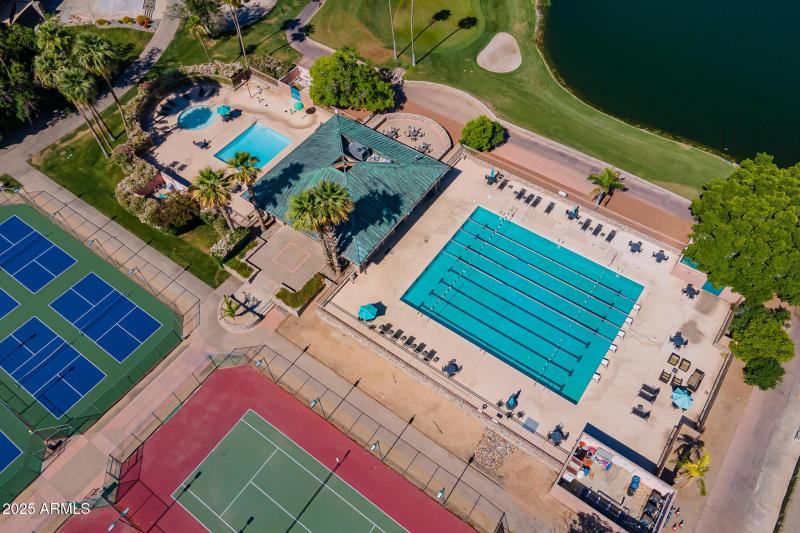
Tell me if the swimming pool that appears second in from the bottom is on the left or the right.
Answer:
left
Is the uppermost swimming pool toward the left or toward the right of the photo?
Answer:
left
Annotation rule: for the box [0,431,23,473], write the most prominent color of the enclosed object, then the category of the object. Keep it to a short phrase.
blue sports court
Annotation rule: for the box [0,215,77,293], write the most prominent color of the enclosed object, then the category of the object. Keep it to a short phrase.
blue sports court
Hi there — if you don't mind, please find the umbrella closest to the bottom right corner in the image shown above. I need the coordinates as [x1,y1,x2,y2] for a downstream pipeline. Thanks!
[672,385,698,409]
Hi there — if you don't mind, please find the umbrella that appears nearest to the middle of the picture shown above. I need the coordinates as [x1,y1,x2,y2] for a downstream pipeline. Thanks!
[359,299,382,320]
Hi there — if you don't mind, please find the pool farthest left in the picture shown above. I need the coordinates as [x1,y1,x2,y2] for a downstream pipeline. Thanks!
[175,106,217,130]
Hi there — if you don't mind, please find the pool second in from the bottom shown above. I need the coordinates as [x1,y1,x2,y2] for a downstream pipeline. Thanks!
[211,120,295,169]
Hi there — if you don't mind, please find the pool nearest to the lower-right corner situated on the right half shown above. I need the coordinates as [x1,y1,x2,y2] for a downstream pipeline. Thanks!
[398,205,647,407]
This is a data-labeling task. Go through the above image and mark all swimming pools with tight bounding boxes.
[175,106,217,130]
[398,205,647,407]
[211,120,295,169]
